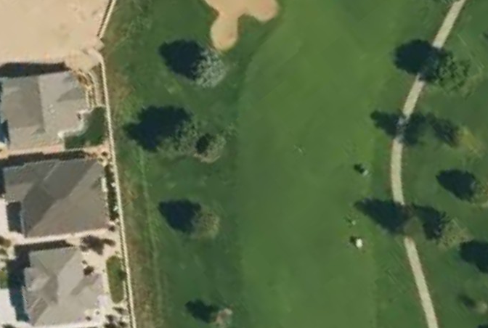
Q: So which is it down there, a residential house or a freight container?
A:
residential house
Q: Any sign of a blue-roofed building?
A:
No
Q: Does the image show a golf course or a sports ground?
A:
golf course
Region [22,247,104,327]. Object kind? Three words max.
house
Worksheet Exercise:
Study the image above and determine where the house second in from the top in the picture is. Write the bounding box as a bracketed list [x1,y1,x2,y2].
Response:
[2,157,110,238]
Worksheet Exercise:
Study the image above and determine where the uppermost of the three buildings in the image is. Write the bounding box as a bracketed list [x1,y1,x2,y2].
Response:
[1,72,90,150]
